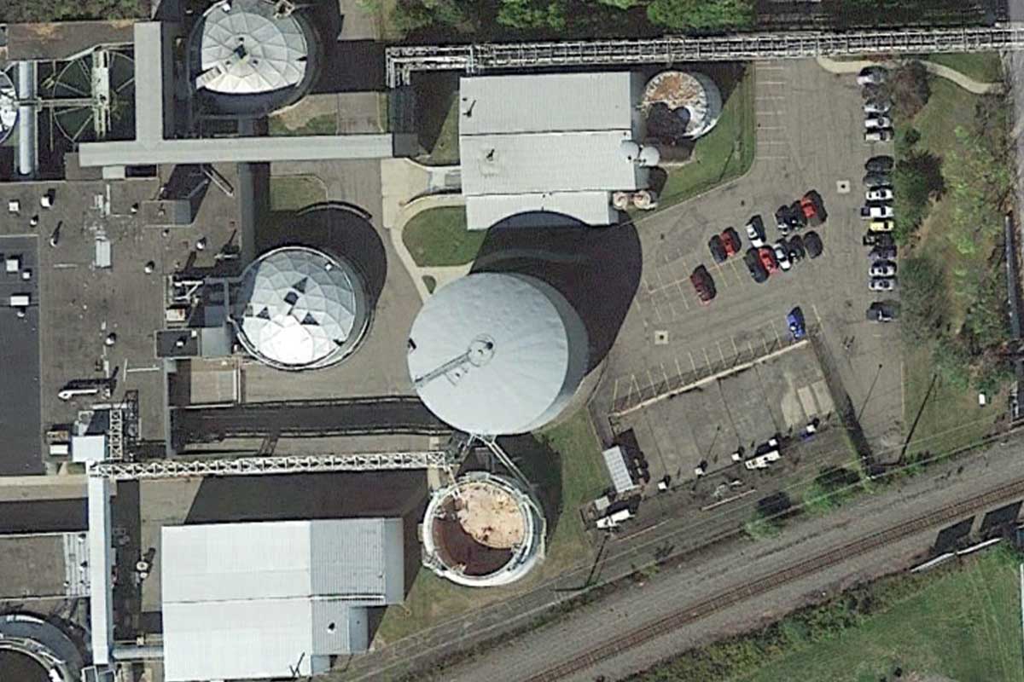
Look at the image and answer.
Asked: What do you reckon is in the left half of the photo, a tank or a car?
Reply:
tank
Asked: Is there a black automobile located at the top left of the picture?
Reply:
No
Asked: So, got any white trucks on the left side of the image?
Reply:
No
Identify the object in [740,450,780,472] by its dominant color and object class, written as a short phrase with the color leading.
white truck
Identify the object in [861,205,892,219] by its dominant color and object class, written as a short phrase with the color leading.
white vehicle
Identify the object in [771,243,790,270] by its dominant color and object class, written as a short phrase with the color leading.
white car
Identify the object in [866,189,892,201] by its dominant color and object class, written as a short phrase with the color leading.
white vehicle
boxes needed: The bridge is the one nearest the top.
[93,49,108,138]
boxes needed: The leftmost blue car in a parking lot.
[786,309,803,337]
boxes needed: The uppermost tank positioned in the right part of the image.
[636,71,720,138]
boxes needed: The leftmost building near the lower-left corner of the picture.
[0,534,72,598]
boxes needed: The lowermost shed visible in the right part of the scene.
[603,446,639,495]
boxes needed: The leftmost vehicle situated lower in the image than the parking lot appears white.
[594,510,630,529]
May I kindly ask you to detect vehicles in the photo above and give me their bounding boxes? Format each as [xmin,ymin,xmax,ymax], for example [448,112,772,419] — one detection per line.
[863,101,890,113]
[864,173,891,186]
[869,304,896,317]
[868,277,895,290]
[771,243,790,270]
[740,450,780,472]
[785,236,804,263]
[801,231,821,258]
[691,272,711,299]
[868,263,895,275]
[715,228,738,260]
[786,309,803,337]
[858,69,886,83]
[758,246,776,273]
[861,205,892,219]
[870,220,893,233]
[866,189,892,201]
[745,218,763,245]
[773,209,791,236]
[594,510,630,529]
[784,204,803,232]
[863,233,895,247]
[861,129,893,142]
[868,248,895,260]
[744,252,764,280]
[864,116,891,128]
[707,235,726,263]
[865,157,893,170]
